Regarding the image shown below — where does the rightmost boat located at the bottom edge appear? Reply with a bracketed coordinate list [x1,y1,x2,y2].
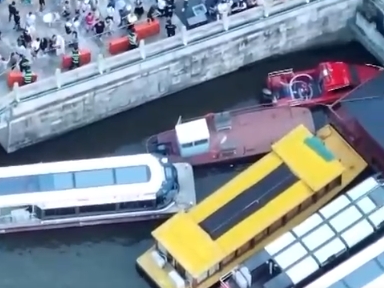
[308,234,384,288]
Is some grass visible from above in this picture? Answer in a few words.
No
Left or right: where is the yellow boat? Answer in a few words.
right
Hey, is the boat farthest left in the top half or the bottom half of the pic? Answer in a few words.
bottom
